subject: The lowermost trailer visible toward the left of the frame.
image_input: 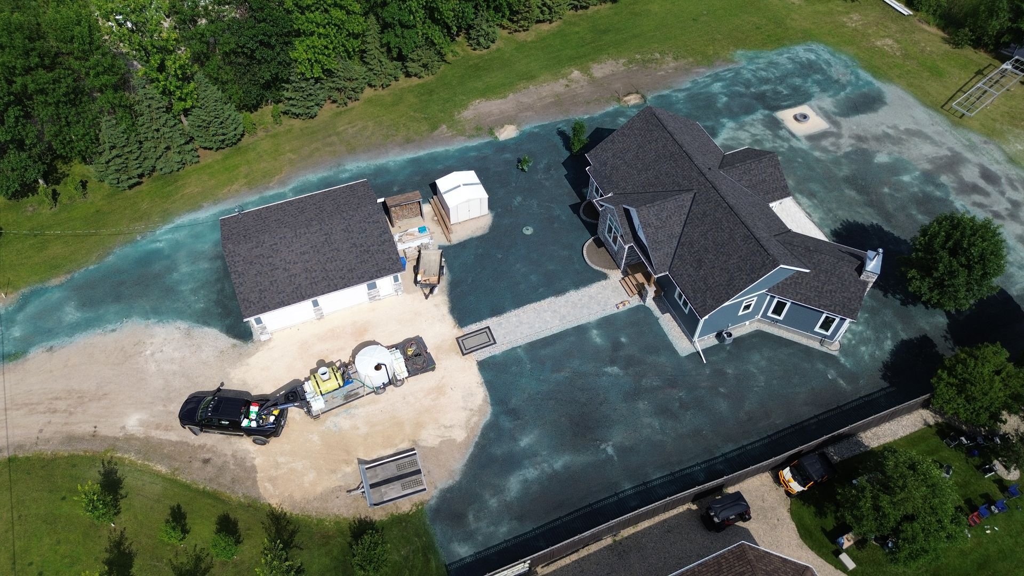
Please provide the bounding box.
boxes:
[348,448,430,508]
